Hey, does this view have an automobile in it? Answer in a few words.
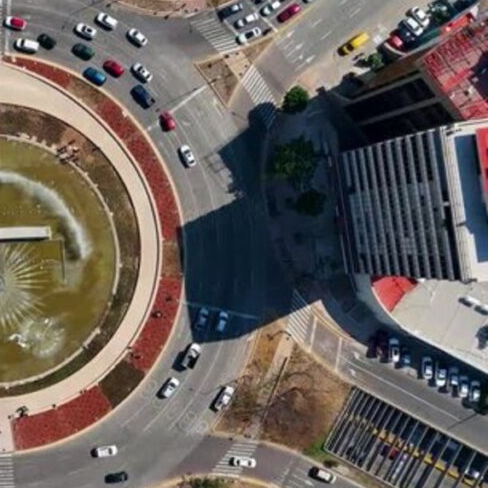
Yes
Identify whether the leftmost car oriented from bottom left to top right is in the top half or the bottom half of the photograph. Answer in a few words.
bottom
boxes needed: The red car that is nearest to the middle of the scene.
[160,112,176,132]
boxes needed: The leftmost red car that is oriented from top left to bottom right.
[103,59,126,77]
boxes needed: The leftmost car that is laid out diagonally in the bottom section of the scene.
[160,376,180,398]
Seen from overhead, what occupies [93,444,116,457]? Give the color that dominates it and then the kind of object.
white vehicle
